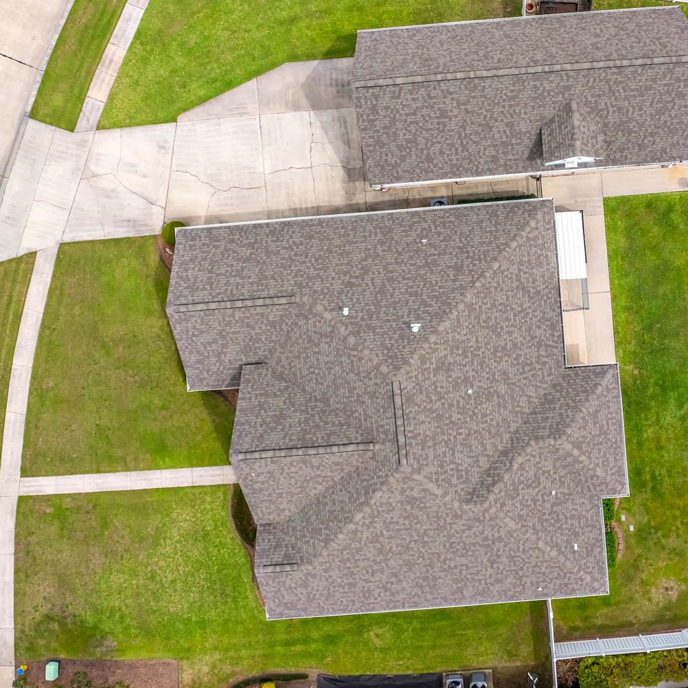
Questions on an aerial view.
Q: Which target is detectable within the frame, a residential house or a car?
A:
residential house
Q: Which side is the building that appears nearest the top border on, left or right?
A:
right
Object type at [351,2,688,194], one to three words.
building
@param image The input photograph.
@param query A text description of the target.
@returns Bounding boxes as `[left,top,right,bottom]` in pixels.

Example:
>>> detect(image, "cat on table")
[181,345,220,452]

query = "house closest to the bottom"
[165,195,632,623]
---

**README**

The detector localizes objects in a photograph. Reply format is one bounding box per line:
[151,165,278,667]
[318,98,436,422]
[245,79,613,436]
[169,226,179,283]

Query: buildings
[351,2,688,194]
[165,195,632,623]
